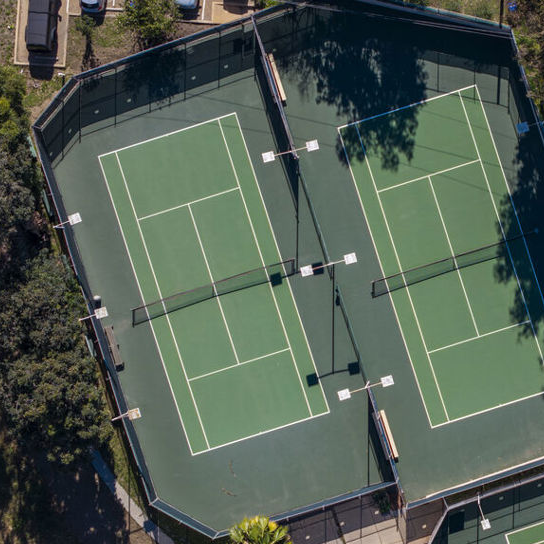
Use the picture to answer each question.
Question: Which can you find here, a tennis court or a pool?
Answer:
tennis court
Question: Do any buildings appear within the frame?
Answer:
No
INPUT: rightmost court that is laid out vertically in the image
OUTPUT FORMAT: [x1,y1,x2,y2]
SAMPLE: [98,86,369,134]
[258,1,544,502]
